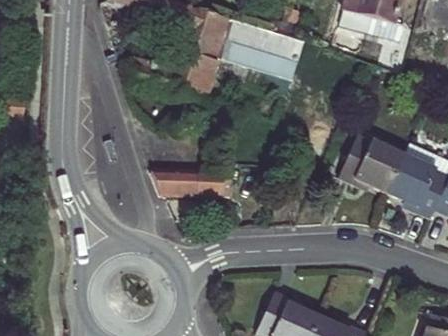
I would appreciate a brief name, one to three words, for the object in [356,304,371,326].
car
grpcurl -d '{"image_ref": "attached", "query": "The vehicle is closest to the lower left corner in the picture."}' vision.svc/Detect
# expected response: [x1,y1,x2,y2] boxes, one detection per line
[75,230,88,264]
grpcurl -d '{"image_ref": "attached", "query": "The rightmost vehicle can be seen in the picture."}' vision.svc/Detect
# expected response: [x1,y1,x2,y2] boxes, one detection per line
[430,218,442,238]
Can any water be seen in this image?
No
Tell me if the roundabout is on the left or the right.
left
